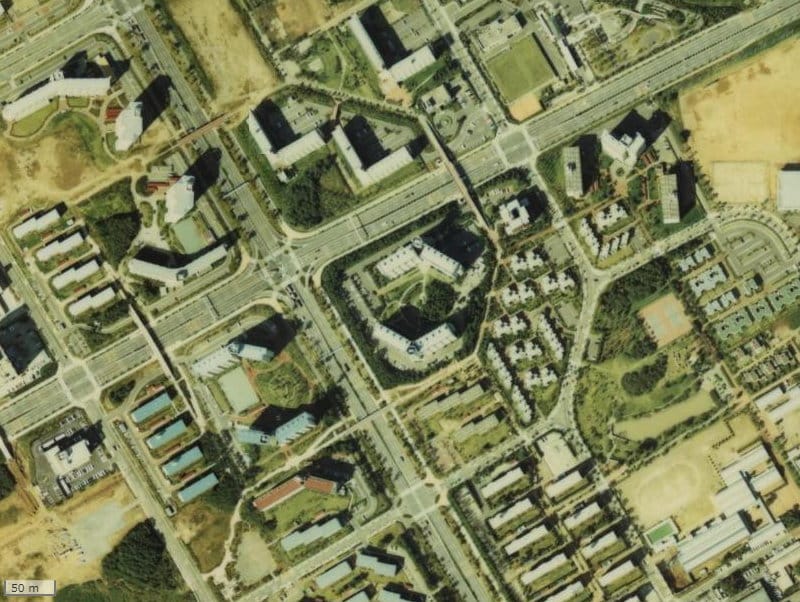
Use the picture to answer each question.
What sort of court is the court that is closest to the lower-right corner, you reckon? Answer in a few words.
tennis court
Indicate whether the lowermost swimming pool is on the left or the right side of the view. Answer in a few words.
right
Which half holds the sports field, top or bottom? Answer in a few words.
top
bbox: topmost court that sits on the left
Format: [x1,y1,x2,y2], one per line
[173,213,209,254]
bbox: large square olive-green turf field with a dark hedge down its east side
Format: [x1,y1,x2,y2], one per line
[486,34,555,104]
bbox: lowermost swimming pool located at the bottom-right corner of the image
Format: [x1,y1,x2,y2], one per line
[644,518,679,546]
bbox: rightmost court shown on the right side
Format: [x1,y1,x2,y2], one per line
[640,293,689,347]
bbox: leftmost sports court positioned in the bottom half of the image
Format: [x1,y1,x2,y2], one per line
[219,366,259,413]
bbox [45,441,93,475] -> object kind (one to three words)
building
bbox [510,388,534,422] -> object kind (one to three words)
house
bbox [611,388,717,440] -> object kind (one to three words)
pond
